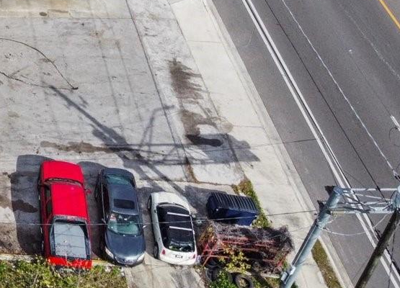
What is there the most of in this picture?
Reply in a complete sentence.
What you mostly see from above here is paved ground.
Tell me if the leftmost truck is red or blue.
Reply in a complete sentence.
From above, the leftmost truck appears red.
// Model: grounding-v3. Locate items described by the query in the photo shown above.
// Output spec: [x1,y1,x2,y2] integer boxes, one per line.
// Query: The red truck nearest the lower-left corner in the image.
[33,155,95,269]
